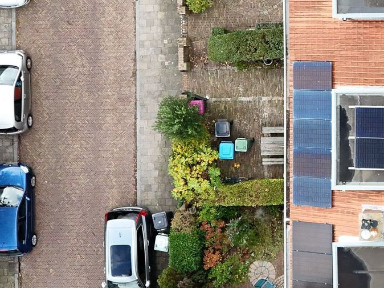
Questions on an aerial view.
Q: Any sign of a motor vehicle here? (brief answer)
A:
Yes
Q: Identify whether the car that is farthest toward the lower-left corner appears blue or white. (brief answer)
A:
blue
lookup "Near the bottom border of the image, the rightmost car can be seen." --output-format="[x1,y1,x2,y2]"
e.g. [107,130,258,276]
[97,204,155,288]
